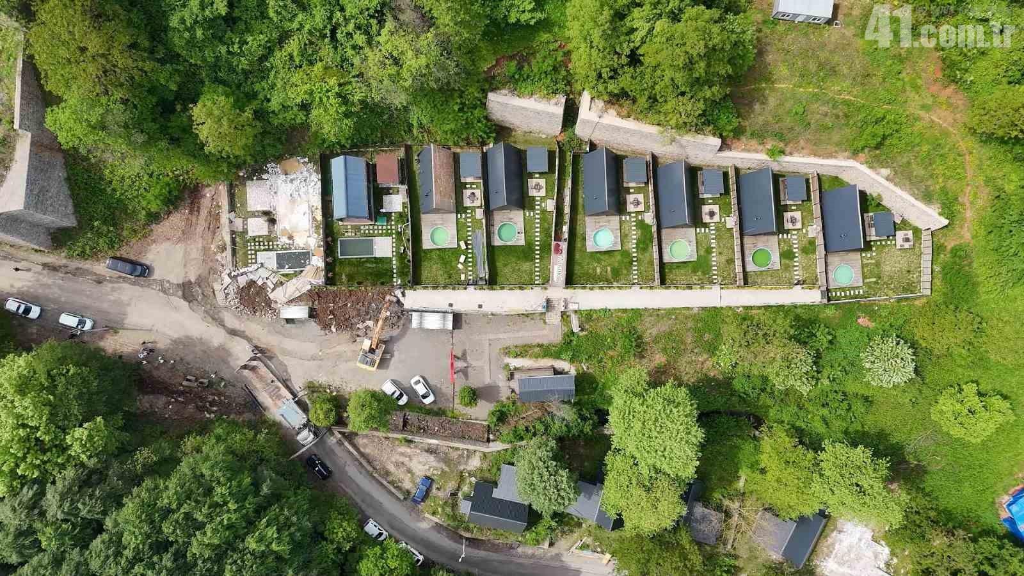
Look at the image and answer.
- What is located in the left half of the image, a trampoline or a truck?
truck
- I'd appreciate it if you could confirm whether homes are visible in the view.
Yes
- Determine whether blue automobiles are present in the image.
Yes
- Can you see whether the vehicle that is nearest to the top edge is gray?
Yes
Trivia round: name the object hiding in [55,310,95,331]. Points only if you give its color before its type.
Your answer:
white vehicle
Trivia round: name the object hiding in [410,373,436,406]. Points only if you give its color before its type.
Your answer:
white car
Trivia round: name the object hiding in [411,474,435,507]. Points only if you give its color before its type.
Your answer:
blue car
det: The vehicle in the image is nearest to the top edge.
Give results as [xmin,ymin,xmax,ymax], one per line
[104,255,150,278]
